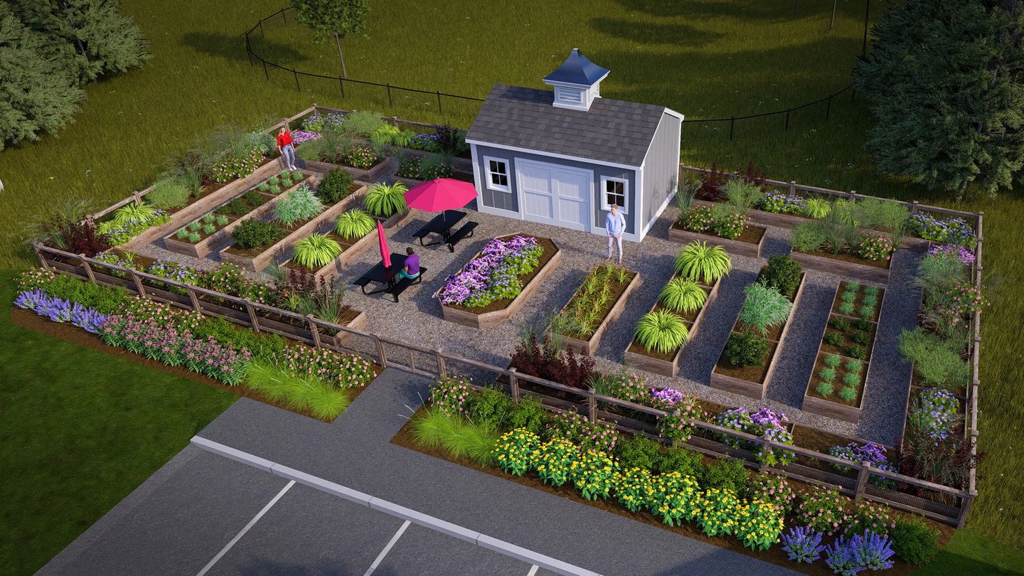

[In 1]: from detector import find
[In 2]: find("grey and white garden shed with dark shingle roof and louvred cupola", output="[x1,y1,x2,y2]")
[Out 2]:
[463,47,685,243]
